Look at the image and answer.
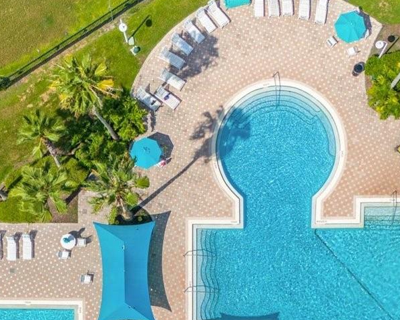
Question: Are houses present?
No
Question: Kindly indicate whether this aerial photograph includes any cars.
No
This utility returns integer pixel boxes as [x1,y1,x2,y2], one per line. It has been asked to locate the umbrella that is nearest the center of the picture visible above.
[131,137,163,169]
